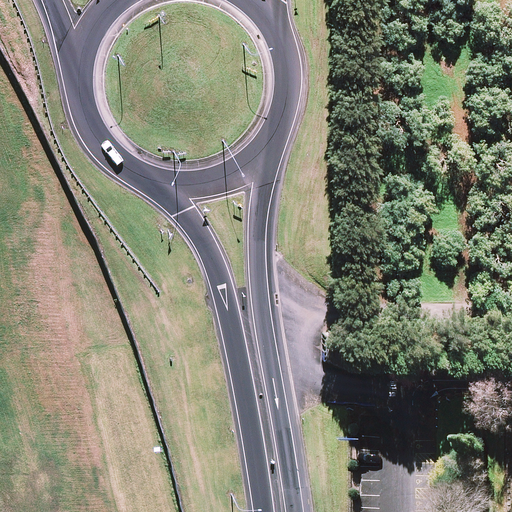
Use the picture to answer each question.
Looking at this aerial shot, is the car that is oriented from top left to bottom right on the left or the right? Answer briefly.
left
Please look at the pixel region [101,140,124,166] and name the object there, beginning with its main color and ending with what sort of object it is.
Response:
white car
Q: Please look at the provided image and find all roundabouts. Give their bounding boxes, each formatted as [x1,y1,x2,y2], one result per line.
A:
[66,0,301,196]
